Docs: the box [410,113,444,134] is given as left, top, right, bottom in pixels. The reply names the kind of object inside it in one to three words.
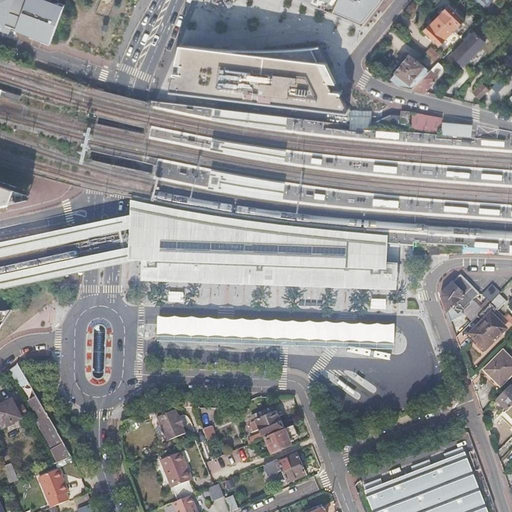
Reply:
building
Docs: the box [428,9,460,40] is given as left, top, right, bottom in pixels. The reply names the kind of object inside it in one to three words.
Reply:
house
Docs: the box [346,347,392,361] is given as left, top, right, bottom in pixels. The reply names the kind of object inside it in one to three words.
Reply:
vehicle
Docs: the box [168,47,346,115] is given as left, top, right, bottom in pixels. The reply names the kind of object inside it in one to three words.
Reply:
building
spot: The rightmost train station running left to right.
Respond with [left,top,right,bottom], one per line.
[130,200,398,290]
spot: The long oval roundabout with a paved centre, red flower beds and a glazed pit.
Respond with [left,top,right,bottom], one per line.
[60,286,142,411]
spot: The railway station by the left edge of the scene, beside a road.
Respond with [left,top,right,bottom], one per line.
[0,214,130,289]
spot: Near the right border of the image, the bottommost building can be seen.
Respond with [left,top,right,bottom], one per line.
[364,451,489,512]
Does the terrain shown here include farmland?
No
